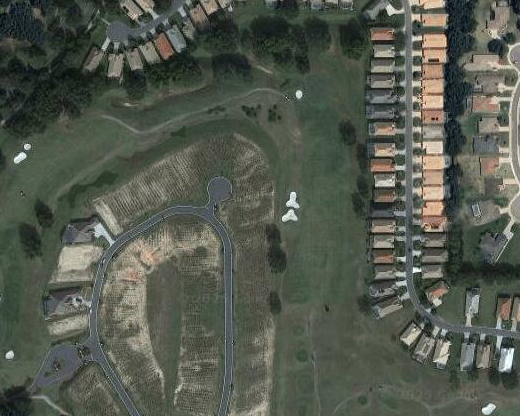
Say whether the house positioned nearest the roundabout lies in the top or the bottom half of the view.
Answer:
bottom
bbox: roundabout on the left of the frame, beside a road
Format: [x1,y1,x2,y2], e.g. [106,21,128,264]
[34,343,98,388]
